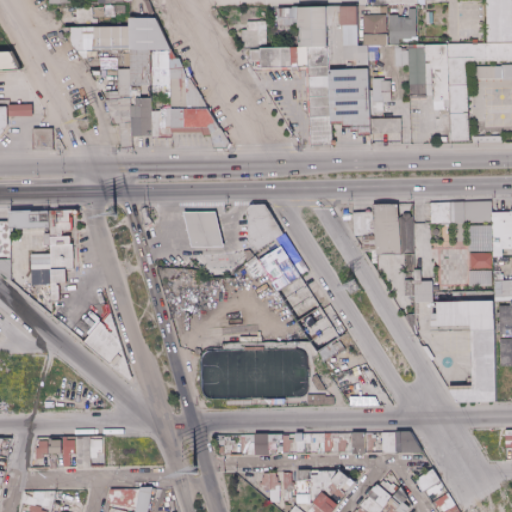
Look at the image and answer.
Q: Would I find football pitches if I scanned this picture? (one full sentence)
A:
Yes, a football pitch is visible in the scene.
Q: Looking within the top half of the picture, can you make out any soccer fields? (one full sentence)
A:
No, no soccer field is visible within the top half of the picture.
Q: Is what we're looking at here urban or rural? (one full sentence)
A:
The area is urban.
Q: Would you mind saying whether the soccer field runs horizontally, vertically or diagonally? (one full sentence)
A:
In this picture, the soccer field is oriented horizontally.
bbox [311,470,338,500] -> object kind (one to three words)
house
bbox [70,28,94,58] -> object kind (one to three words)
building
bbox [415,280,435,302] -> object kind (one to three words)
house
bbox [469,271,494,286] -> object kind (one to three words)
building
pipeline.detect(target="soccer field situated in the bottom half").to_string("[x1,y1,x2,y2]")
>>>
[200,349,308,399]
